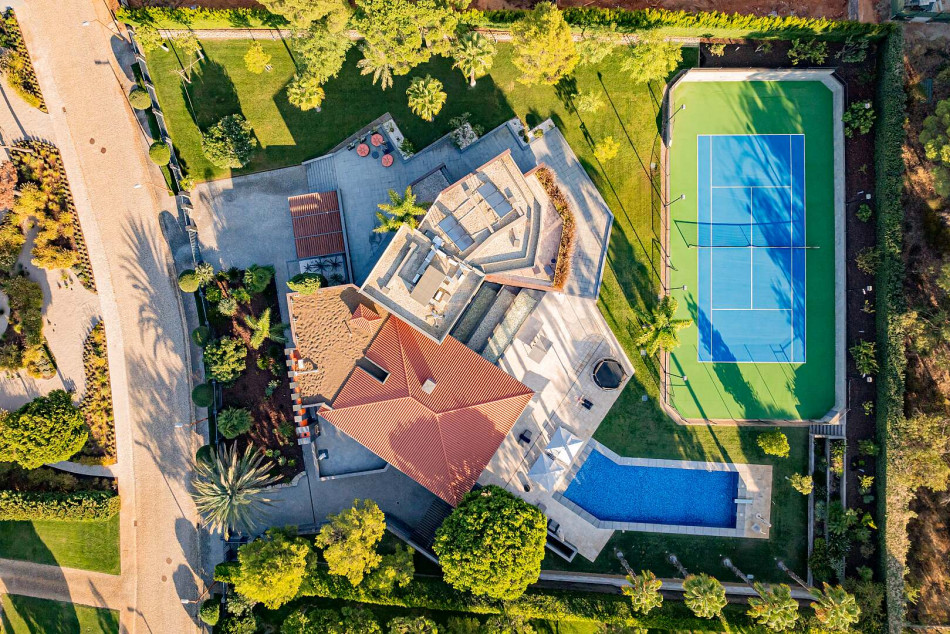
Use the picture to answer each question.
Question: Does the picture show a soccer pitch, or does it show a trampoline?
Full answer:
Of the two, only a trampoline appears.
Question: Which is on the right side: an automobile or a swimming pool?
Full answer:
Looking on the right side, you will find a swimming pool.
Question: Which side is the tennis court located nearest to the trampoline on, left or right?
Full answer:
You can find the tennis court located nearest to the trampoline on the right side of the picture.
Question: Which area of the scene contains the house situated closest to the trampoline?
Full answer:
The house situated closest to the trampoline is located in the center region of the scene.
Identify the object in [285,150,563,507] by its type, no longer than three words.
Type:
house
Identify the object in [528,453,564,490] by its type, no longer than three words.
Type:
umbrella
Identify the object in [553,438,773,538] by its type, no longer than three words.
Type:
swimming pool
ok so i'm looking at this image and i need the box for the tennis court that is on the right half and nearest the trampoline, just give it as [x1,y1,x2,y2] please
[657,68,848,426]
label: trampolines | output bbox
[589,356,628,393]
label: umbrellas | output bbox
[546,427,584,465]
[528,453,564,490]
